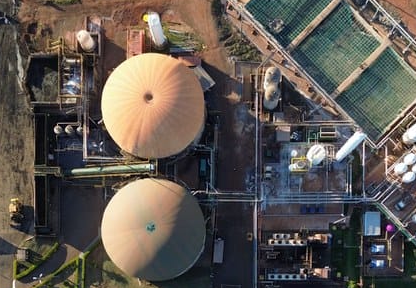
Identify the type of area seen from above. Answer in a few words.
industrial area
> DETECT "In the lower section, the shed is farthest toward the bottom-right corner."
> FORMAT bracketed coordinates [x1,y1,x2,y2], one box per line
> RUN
[361,212,380,236]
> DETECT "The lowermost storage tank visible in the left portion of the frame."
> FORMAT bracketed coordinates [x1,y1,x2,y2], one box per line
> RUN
[99,176,207,283]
